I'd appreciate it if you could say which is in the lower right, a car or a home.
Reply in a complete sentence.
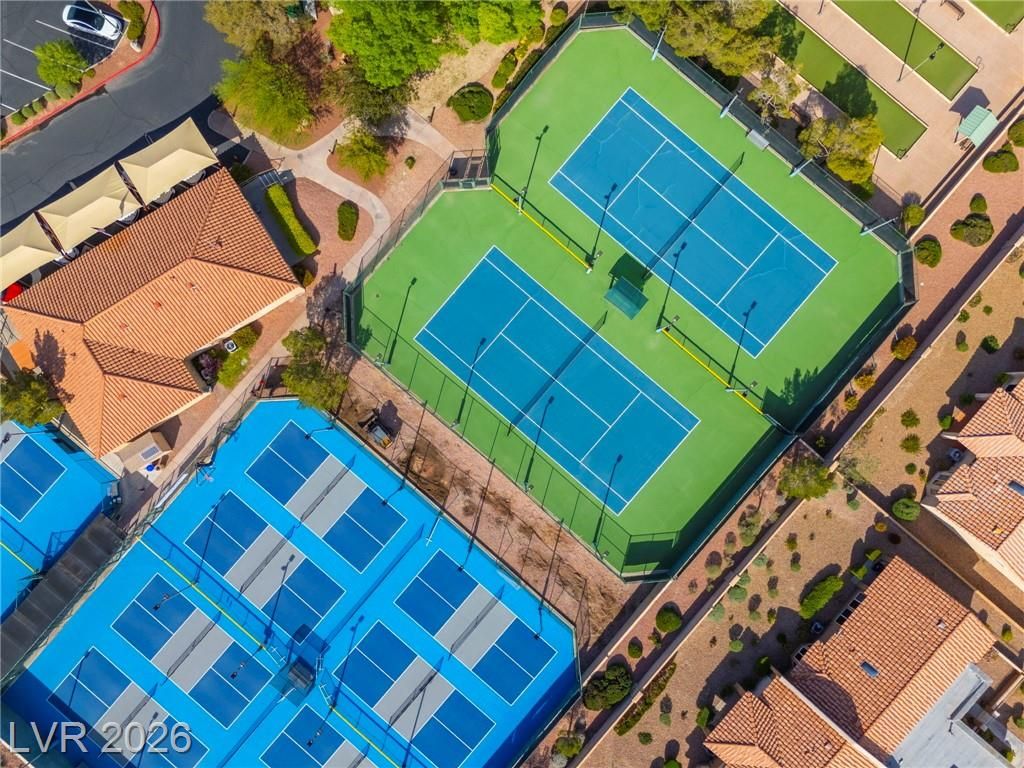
It is a home that can be seen in the lower right.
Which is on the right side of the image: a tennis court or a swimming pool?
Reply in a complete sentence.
Visible on the right side of the image is a tennis court.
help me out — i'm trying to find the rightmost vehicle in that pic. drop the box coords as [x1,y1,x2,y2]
[359,411,400,453]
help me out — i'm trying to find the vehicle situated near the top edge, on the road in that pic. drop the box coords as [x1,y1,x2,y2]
[59,1,119,41]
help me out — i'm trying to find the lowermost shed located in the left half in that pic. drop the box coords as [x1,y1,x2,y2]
[116,431,184,474]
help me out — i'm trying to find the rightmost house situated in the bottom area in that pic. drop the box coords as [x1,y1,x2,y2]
[922,375,1024,581]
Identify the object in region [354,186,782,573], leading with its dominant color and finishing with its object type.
green tennis court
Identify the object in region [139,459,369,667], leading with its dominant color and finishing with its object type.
blue sports court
